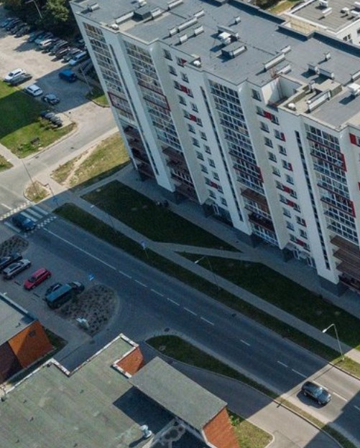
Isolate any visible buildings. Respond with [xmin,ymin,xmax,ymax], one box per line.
[0,335,243,448]
[0,293,51,377]
[69,0,360,294]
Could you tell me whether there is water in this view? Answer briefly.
No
